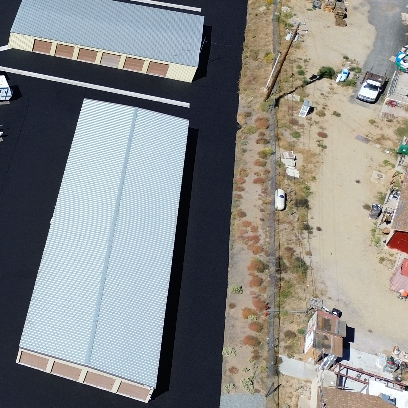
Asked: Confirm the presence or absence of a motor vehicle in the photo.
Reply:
Yes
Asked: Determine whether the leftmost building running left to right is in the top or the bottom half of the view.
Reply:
top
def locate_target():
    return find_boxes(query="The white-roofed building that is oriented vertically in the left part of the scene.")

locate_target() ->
[17,99,189,400]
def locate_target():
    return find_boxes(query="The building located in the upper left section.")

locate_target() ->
[8,0,203,81]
